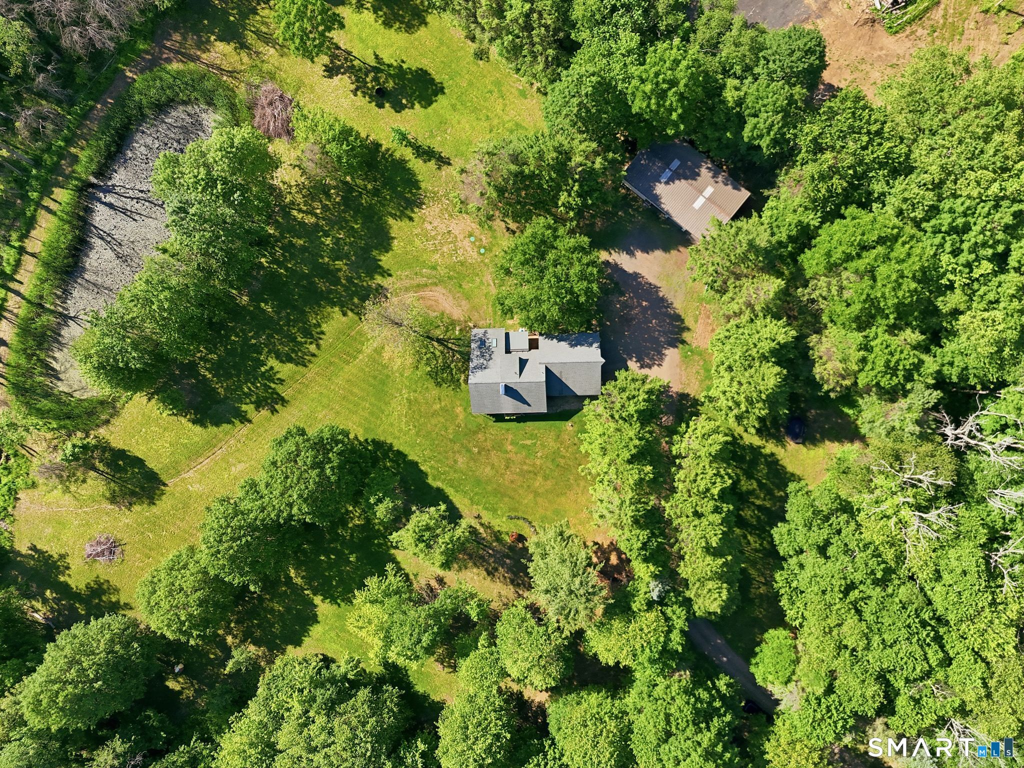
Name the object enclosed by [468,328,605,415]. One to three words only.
house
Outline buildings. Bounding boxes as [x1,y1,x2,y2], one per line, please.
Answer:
[624,132,751,239]
[468,328,605,415]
